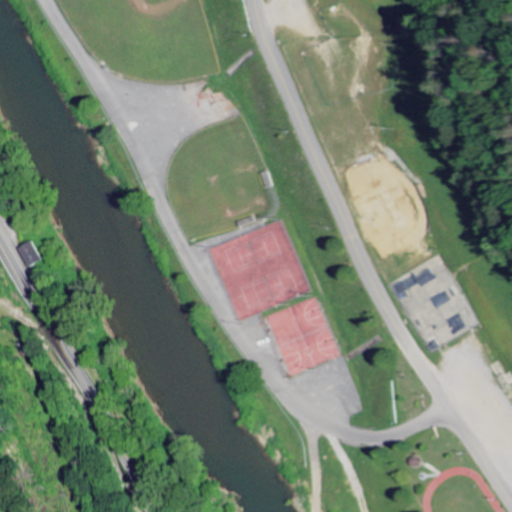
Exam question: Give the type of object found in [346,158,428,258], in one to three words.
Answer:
baseball field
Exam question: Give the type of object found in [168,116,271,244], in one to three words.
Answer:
baseball field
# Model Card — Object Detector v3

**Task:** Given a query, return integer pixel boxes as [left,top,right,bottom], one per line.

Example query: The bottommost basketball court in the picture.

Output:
[278,328,340,376]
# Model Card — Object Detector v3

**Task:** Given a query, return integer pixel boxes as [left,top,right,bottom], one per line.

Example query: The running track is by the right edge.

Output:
[422,467,504,512]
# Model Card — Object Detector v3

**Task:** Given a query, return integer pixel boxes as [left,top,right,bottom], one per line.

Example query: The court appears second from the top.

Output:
[226,256,312,320]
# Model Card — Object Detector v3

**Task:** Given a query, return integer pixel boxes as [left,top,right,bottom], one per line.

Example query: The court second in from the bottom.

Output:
[266,298,328,346]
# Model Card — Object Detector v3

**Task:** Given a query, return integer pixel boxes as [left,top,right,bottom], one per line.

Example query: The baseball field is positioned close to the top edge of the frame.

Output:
[54,0,219,82]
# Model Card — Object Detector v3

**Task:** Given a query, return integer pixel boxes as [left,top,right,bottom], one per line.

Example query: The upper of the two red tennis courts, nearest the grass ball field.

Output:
[210,221,296,284]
